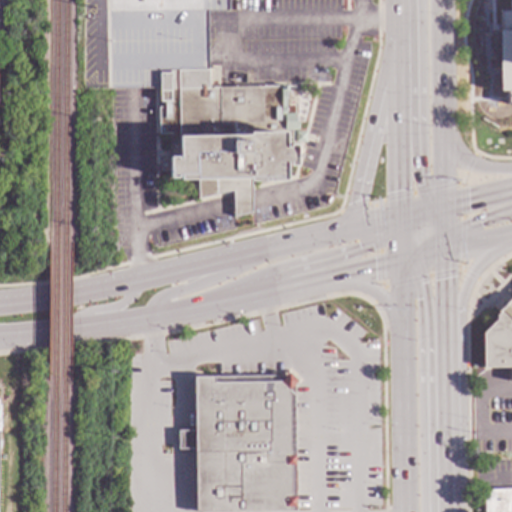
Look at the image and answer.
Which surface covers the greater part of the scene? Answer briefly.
paved ground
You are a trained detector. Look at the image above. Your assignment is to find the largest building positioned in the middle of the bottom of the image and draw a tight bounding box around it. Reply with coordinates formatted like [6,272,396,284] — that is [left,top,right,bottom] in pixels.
[194,374,300,510]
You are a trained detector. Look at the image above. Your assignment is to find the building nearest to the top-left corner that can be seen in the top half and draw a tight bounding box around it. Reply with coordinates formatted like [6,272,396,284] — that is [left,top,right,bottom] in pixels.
[108,0,229,88]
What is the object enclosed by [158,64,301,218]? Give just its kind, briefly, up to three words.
building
